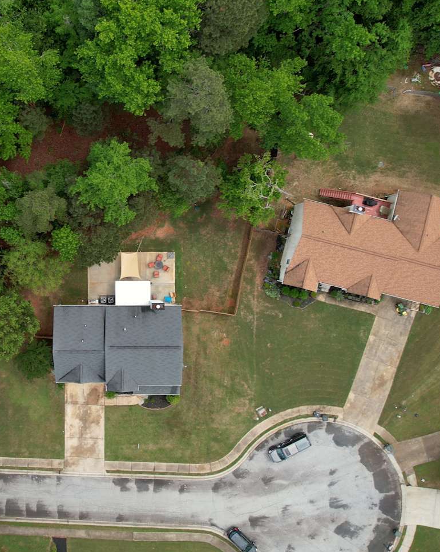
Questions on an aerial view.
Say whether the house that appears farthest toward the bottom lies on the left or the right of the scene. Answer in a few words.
left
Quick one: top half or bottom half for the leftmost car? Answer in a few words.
bottom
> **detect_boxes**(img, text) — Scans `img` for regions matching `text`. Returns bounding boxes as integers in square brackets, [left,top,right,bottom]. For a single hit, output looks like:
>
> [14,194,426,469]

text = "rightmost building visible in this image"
[280,190,440,310]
